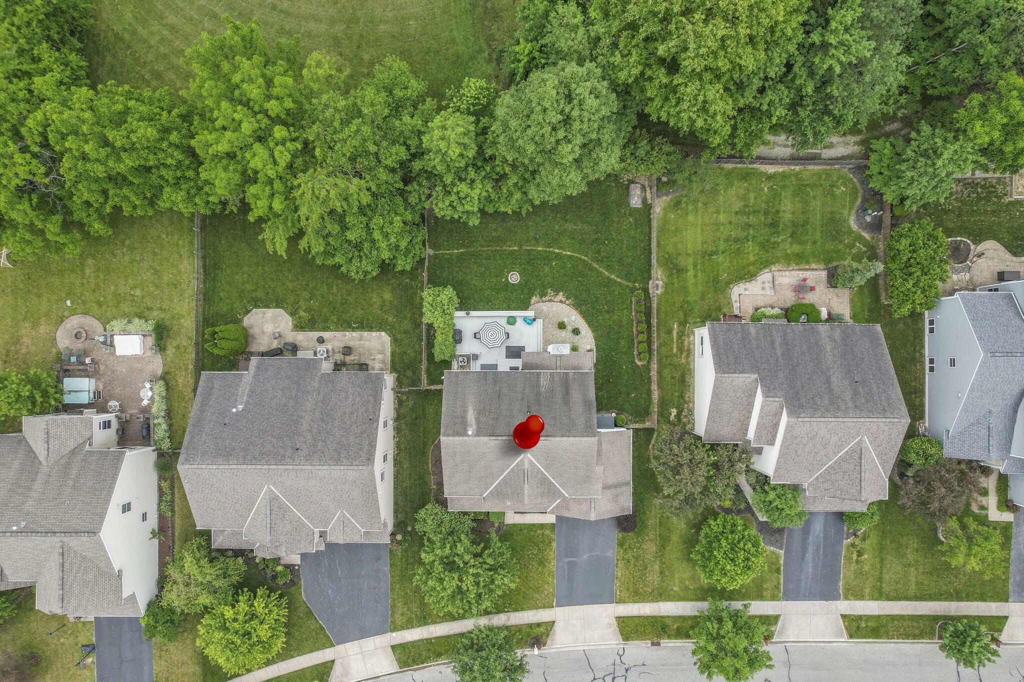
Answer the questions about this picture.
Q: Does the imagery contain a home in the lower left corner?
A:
Yes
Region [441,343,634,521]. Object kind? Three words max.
house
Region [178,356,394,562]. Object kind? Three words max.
house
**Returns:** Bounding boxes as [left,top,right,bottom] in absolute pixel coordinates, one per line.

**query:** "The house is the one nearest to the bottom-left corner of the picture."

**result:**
[0,412,160,618]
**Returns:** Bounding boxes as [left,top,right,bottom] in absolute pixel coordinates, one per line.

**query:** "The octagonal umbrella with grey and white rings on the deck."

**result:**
[480,322,504,347]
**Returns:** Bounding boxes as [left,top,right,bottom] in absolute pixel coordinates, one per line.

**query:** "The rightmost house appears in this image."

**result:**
[924,282,1024,511]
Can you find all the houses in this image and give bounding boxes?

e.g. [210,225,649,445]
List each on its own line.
[0,412,160,618]
[441,343,634,521]
[693,316,910,513]
[924,282,1024,511]
[178,356,394,562]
